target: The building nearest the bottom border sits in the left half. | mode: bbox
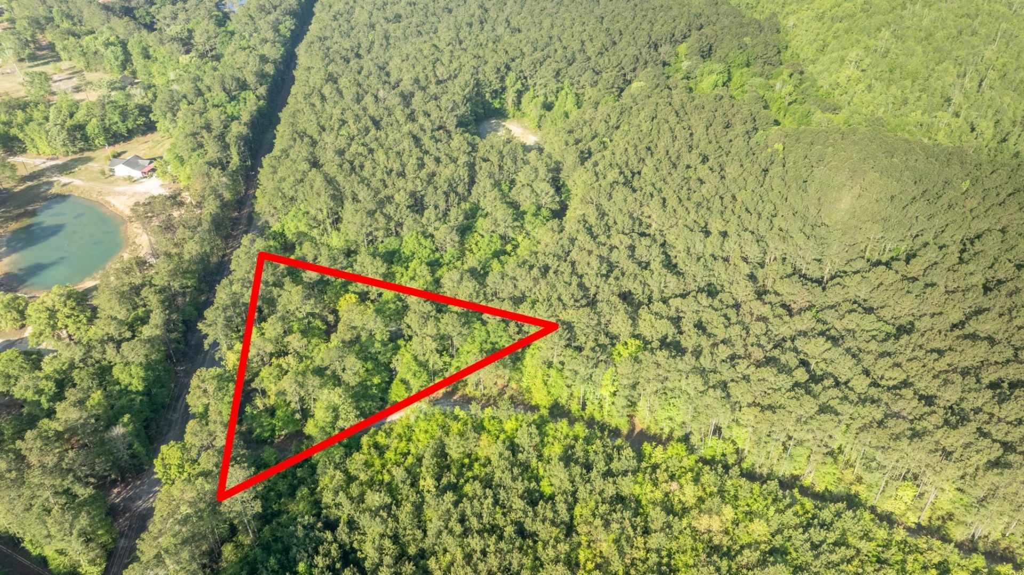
[110,148,165,177]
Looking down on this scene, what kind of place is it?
forest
